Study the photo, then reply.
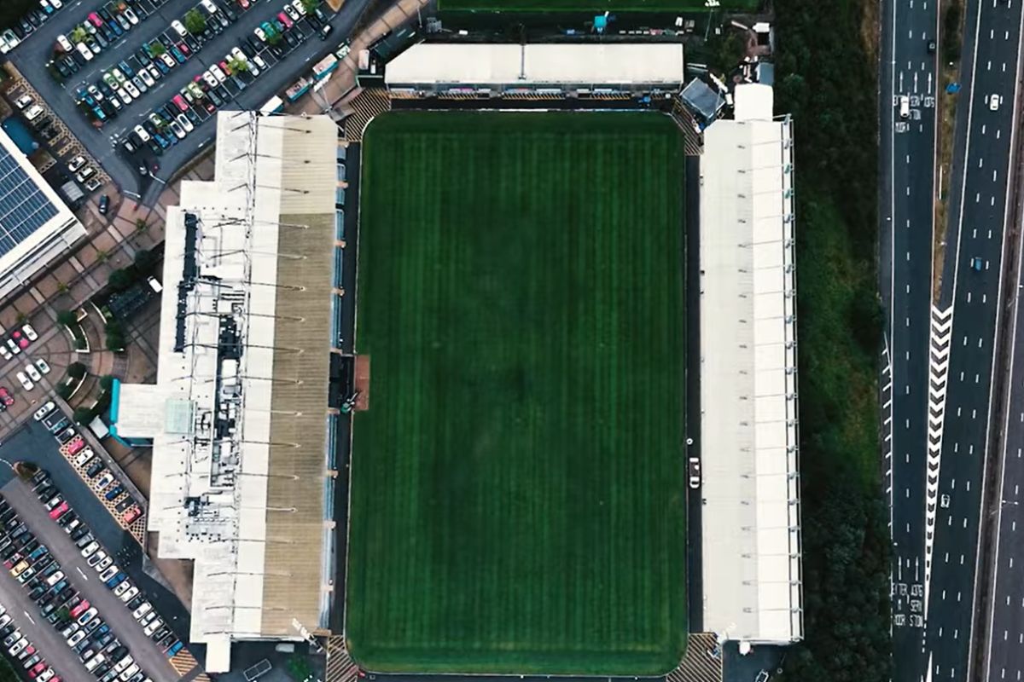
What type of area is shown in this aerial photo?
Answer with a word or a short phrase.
sports ground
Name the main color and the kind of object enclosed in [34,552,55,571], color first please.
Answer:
black car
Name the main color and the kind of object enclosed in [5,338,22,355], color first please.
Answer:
white car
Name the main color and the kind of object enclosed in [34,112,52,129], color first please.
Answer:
black car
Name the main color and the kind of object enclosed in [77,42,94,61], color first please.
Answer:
white car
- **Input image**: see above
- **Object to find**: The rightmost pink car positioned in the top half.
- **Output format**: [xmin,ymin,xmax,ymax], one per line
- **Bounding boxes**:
[277,10,294,29]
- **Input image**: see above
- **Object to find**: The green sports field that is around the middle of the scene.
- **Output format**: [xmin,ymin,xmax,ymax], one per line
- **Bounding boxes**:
[346,111,688,677]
